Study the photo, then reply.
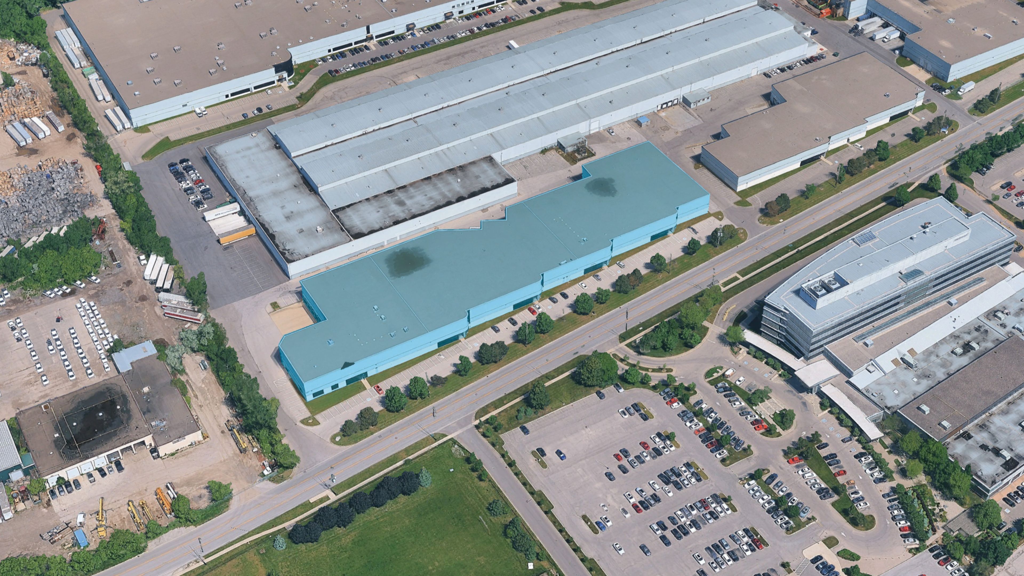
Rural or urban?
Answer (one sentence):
From above, the setting appears urban.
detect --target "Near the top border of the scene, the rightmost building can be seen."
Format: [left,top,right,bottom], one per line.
[863,0,1024,82]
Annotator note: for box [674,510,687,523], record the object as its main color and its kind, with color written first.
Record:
white vehicle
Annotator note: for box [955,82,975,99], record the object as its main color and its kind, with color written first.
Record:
white vehicle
